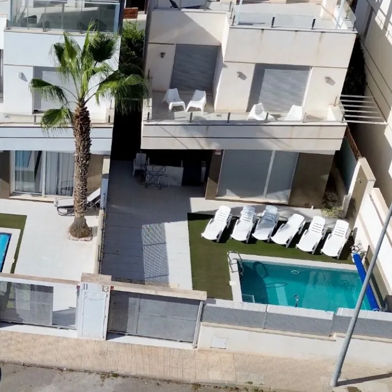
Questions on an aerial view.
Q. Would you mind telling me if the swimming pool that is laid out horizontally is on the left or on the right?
right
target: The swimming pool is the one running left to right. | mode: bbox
[228,250,374,329]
